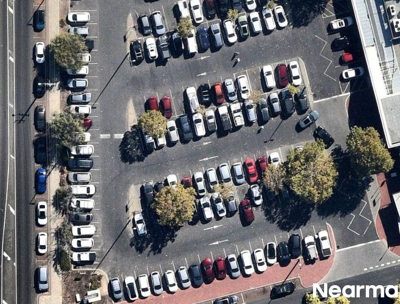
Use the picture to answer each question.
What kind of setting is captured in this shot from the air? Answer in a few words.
parking lot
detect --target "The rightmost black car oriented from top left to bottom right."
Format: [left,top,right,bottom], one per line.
[312,125,333,146]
